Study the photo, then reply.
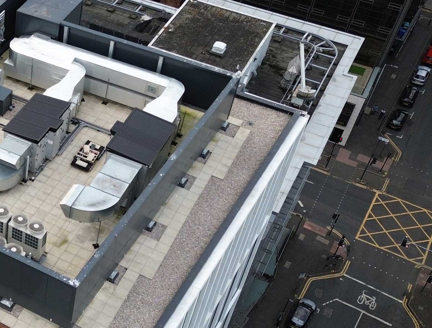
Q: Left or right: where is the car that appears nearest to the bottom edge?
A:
right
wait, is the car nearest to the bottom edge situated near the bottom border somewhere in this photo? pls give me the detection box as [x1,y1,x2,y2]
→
[288,296,316,328]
